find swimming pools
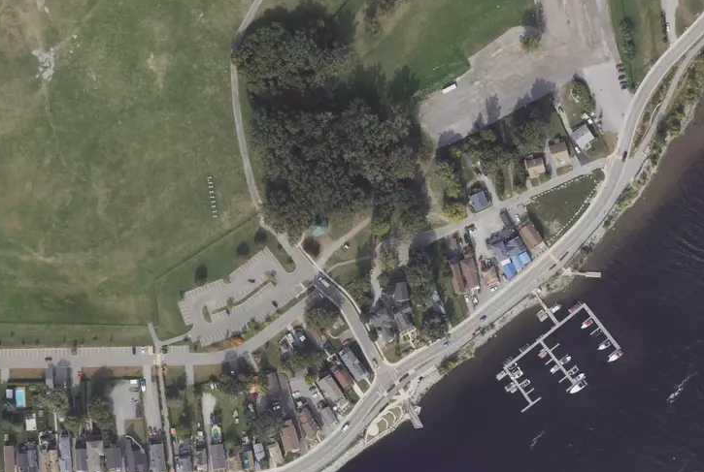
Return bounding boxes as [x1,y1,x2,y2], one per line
[15,387,26,408]
[212,427,221,441]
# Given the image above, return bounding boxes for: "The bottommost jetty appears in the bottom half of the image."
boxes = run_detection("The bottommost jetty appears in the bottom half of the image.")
[405,397,423,429]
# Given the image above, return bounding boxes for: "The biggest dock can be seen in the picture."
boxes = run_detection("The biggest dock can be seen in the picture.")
[502,301,621,413]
